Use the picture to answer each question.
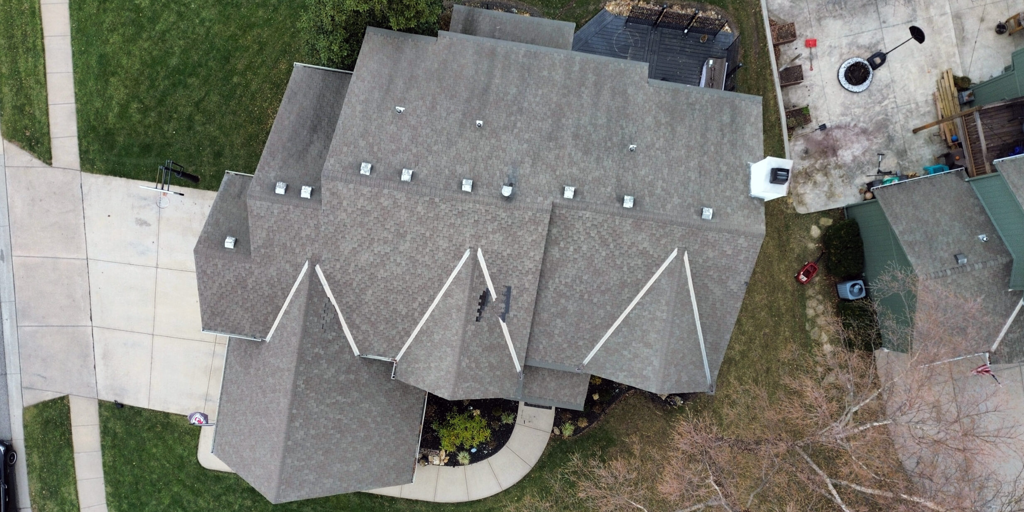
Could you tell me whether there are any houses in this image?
Yes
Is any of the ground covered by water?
No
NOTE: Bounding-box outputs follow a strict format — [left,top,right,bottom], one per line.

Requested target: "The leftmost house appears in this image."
[194,3,795,504]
